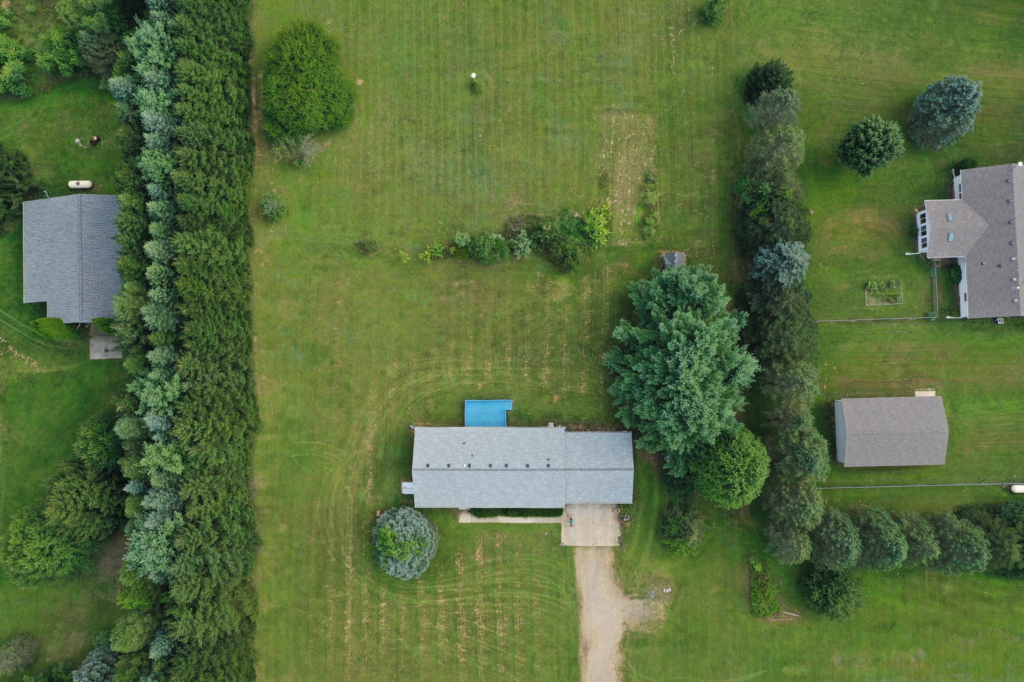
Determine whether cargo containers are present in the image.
No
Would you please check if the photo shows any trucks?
No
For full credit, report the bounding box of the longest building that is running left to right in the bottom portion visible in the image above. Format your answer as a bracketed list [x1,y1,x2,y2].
[412,427,635,508]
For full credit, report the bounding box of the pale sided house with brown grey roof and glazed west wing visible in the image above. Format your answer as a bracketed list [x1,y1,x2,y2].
[900,162,1024,319]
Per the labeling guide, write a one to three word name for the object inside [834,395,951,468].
shed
